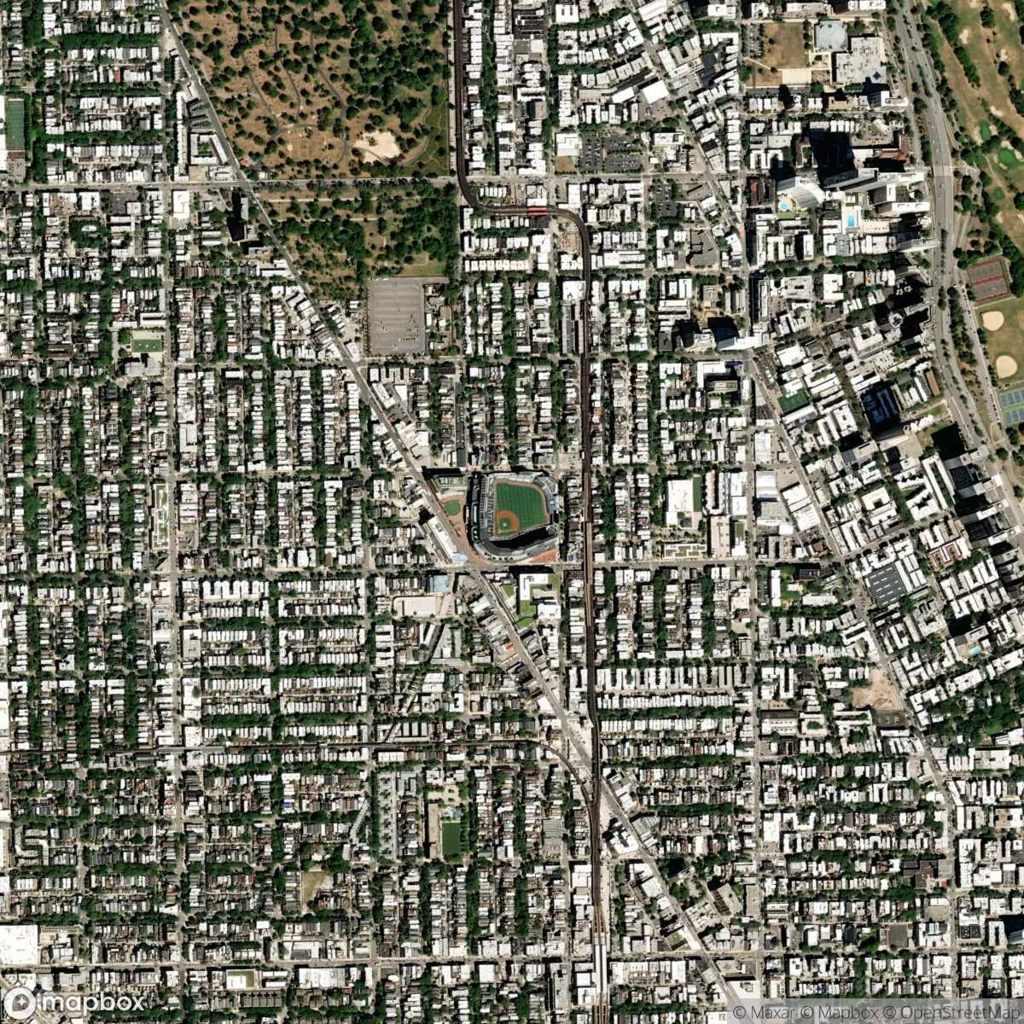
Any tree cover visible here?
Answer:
Yes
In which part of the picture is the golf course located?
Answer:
top right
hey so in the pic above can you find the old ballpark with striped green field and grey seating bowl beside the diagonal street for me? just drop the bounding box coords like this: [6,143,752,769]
[468,473,559,564]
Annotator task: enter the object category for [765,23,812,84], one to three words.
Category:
sports field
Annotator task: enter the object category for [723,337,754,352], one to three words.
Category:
building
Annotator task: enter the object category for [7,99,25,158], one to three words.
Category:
sports field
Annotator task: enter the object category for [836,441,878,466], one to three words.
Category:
building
